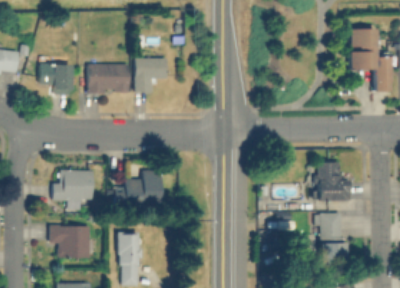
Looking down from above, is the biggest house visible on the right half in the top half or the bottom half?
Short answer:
top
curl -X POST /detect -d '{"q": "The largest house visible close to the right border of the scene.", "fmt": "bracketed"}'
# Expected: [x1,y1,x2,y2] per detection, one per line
[353,28,394,92]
